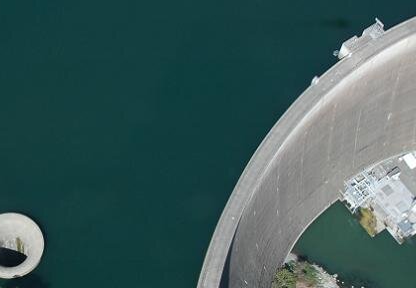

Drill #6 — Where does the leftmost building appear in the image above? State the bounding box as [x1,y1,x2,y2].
[333,35,363,65]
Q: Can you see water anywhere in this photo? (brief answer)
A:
Yes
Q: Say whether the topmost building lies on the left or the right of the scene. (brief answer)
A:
right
